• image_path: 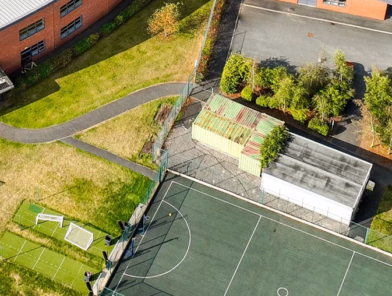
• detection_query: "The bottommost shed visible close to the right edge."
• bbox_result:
[261,127,377,226]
